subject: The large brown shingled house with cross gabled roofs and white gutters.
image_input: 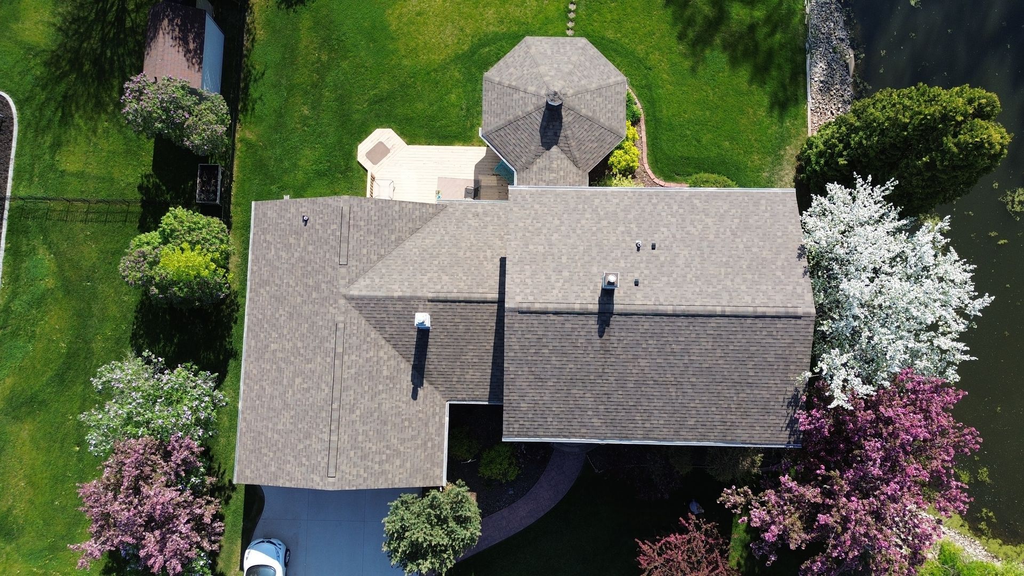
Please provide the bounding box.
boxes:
[231,182,816,490]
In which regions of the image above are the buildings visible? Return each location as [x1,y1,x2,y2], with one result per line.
[146,0,224,109]
[231,182,816,490]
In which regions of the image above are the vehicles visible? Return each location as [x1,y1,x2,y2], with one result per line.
[241,538,291,576]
